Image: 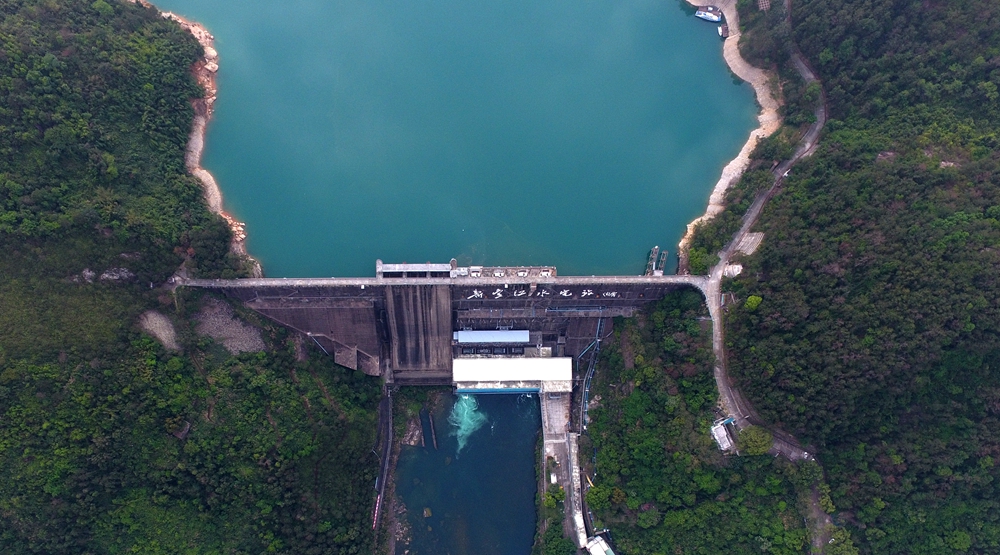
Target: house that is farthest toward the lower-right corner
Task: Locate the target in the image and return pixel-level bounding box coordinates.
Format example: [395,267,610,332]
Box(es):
[710,418,738,457]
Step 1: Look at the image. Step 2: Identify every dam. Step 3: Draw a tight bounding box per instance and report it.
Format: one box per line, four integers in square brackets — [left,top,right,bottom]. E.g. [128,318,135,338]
[185,259,716,387]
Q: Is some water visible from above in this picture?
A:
Yes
